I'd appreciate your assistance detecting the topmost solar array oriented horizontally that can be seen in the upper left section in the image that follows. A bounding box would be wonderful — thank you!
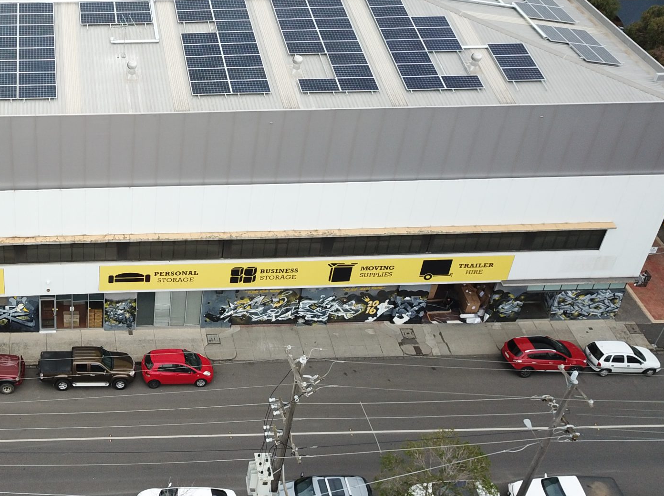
[80,0,151,27]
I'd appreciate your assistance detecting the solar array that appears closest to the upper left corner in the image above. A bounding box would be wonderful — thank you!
[0,5,56,104]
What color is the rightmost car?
white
